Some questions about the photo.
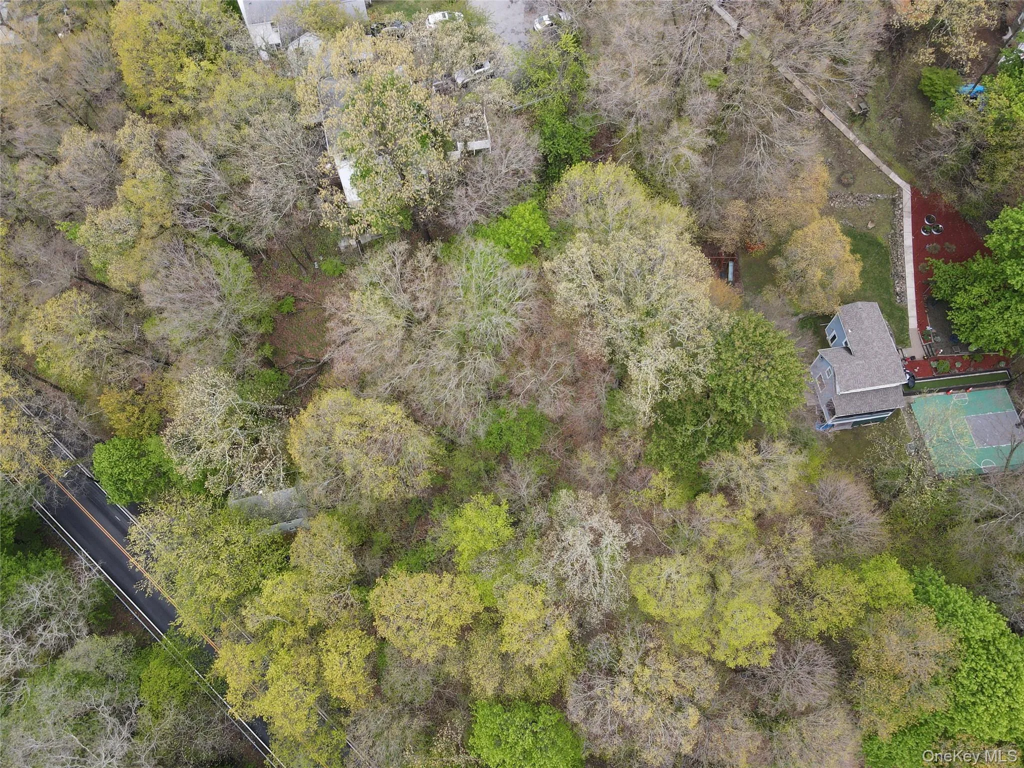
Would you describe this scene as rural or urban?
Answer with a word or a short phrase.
rural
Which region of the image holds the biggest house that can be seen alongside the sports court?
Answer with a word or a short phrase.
right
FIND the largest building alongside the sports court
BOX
[808,302,908,431]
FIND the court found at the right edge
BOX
[911,388,1024,475]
